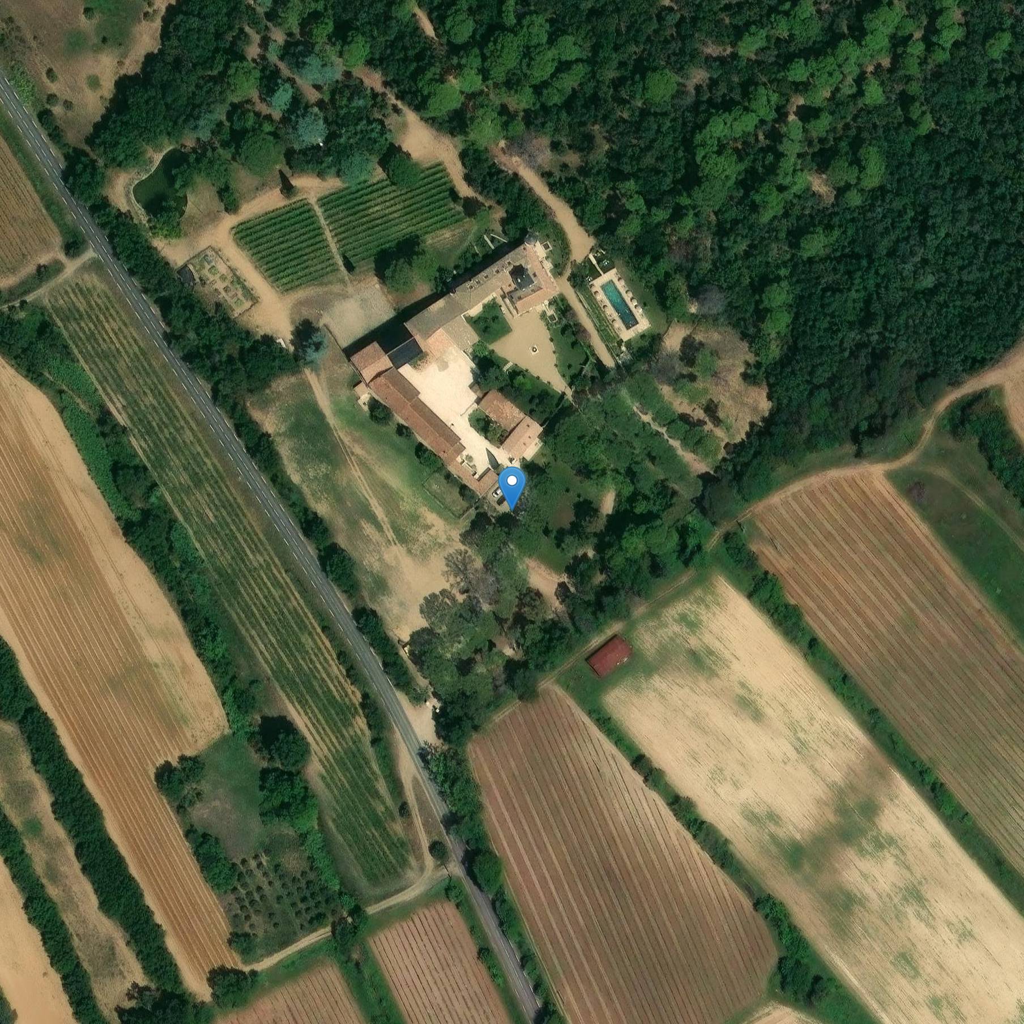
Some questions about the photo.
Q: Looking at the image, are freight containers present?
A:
No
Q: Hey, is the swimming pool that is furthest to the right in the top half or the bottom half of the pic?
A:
top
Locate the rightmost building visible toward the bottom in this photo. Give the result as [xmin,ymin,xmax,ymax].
[589,636,632,677]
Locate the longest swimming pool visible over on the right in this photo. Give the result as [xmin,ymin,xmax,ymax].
[589,269,651,339]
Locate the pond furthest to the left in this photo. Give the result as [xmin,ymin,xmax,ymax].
[134,148,189,220]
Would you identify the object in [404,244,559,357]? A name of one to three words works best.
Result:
house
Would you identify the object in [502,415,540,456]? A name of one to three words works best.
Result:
building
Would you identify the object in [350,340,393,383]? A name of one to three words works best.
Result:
house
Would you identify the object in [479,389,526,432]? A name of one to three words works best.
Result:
barn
